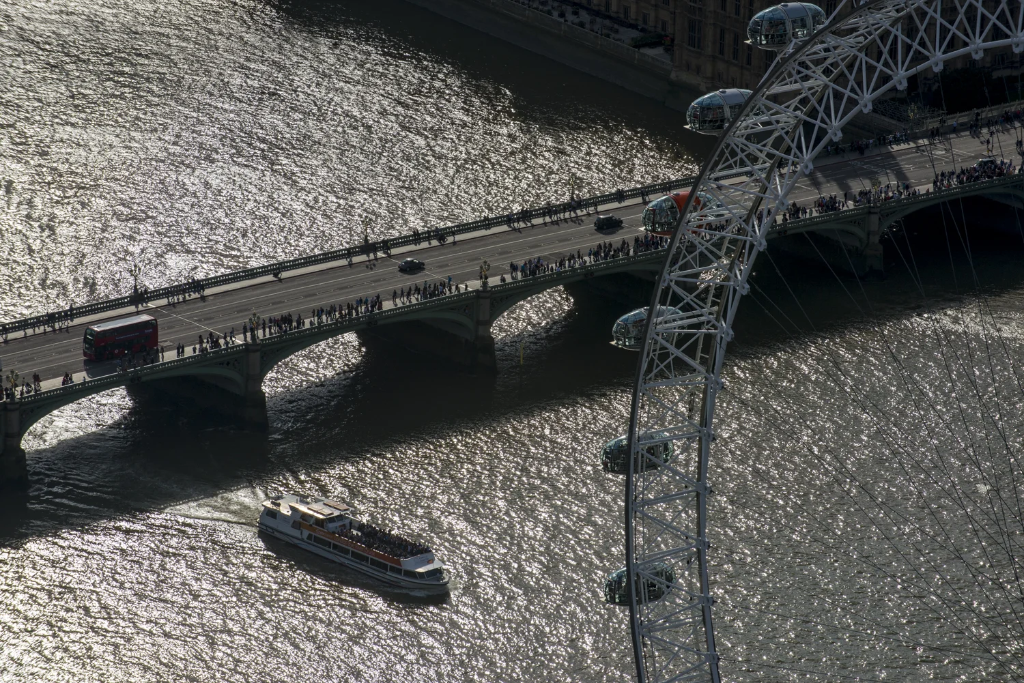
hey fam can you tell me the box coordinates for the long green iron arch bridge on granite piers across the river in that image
[0,129,1024,494]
